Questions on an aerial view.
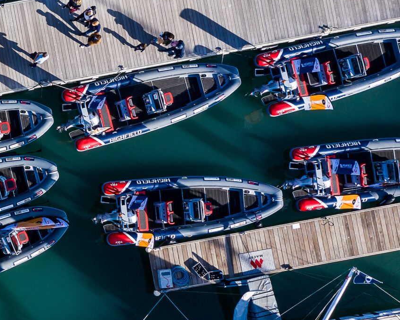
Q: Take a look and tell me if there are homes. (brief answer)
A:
No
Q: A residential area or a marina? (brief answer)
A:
marina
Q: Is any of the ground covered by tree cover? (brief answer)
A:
No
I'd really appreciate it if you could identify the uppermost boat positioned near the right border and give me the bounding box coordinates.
[249,29,400,114]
